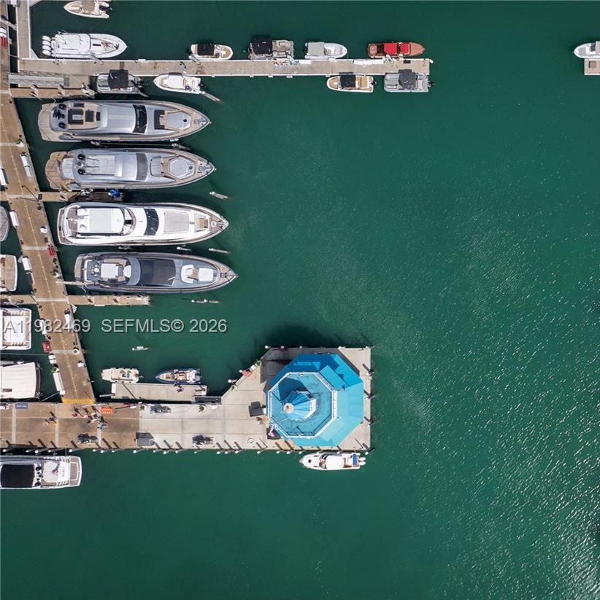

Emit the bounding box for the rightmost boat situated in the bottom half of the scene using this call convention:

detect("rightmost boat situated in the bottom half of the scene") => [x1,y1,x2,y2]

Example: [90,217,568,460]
[299,453,368,470]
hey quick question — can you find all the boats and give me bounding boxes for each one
[186,43,234,59]
[327,75,380,92]
[368,42,424,57]
[63,254,237,295]
[43,32,129,59]
[39,102,210,144]
[0,308,34,350]
[0,254,19,291]
[102,367,148,383]
[64,0,111,19]
[58,204,229,248]
[154,74,209,94]
[574,41,600,58]
[302,42,348,58]
[46,149,216,190]
[0,454,82,490]
[97,70,148,95]
[299,453,368,470]
[155,368,201,384]
[384,74,435,92]
[246,39,295,59]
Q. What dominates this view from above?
water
